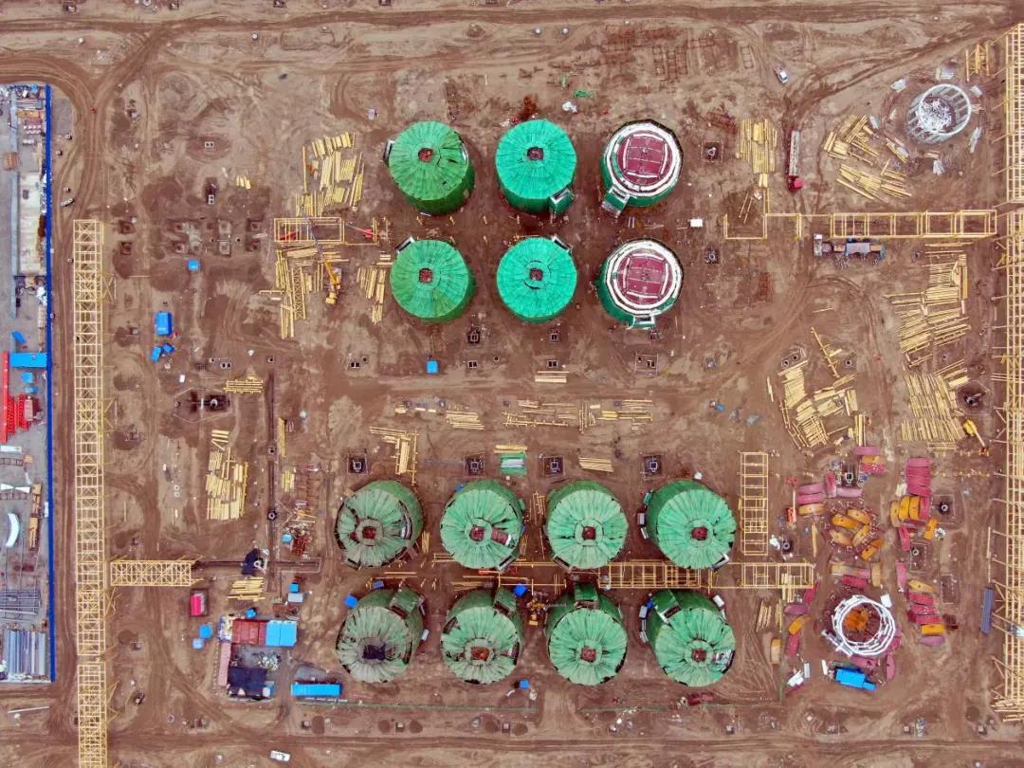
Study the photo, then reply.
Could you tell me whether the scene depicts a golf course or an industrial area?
industrial area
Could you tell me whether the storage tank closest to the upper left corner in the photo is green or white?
green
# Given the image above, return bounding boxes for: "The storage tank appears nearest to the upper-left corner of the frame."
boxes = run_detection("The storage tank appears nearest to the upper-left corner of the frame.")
[379,120,474,214]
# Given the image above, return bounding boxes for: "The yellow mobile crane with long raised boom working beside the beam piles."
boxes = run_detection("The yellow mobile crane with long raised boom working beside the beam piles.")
[305,219,347,303]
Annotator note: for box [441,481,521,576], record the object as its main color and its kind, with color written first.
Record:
green storage tank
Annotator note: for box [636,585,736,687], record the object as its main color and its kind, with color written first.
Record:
green storage tank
